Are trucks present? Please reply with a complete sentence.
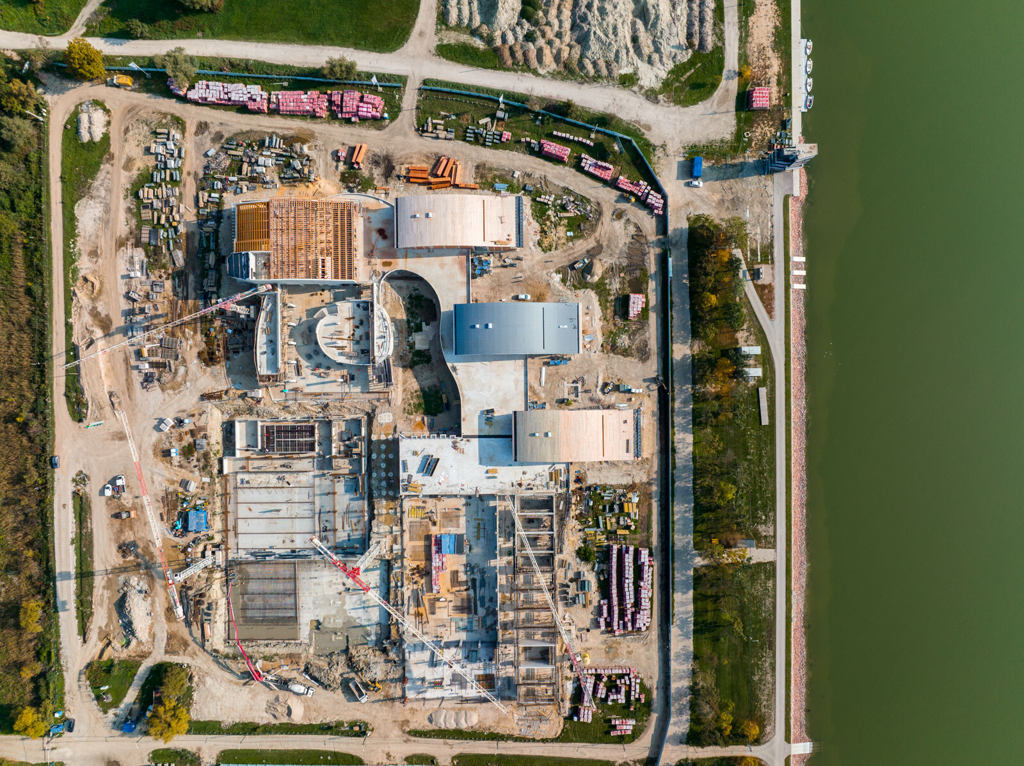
Yes, I can see a truck in this picture.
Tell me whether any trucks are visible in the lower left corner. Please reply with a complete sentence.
Yes, looking in the lower left corner, one can make out a truck.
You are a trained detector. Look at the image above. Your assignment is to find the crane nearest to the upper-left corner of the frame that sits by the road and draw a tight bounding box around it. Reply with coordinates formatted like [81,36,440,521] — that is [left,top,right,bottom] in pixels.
[58,282,276,370]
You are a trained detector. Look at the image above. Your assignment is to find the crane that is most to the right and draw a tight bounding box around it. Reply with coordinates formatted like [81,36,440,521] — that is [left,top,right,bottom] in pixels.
[507,498,597,714]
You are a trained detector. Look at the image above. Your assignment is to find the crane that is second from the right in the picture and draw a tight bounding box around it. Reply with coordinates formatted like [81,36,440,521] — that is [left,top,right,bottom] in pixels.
[308,534,510,717]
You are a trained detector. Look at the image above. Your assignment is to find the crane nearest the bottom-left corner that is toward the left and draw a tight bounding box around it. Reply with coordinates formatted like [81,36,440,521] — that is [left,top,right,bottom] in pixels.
[116,410,225,623]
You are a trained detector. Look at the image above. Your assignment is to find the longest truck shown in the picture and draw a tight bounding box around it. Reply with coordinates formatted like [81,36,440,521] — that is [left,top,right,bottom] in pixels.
[227,580,288,696]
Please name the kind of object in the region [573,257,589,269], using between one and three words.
vehicle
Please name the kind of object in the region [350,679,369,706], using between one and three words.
vehicle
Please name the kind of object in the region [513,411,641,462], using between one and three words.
building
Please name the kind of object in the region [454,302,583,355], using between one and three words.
building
